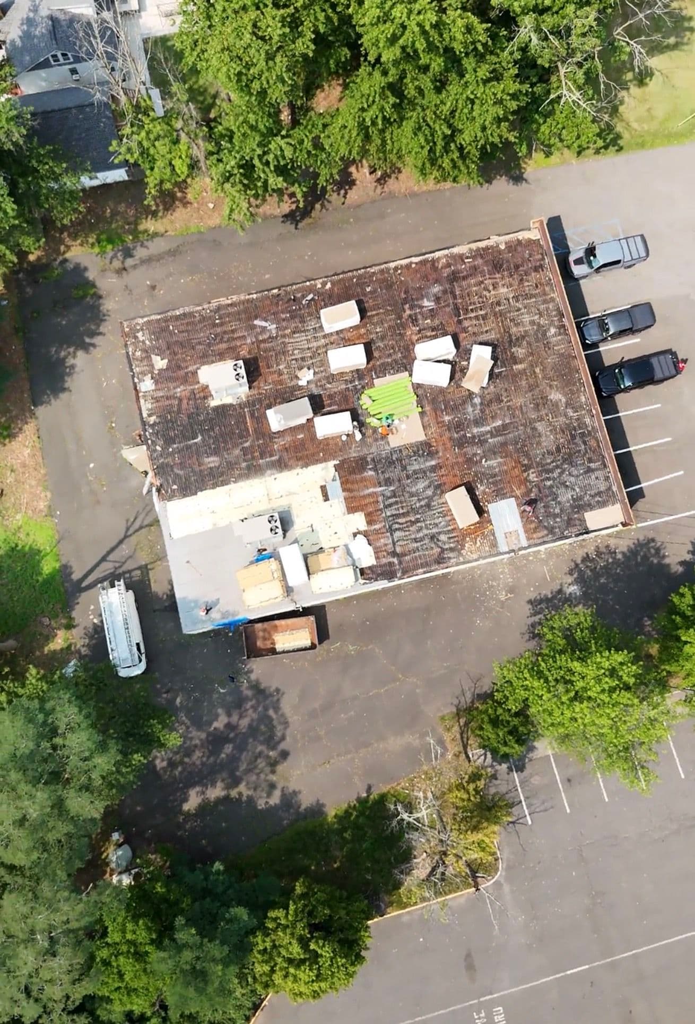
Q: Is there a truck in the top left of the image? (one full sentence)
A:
No, I can find no truck in the top left of the image.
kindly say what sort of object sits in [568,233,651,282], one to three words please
truck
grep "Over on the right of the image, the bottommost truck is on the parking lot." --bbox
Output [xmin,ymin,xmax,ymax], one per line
[592,348,684,400]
